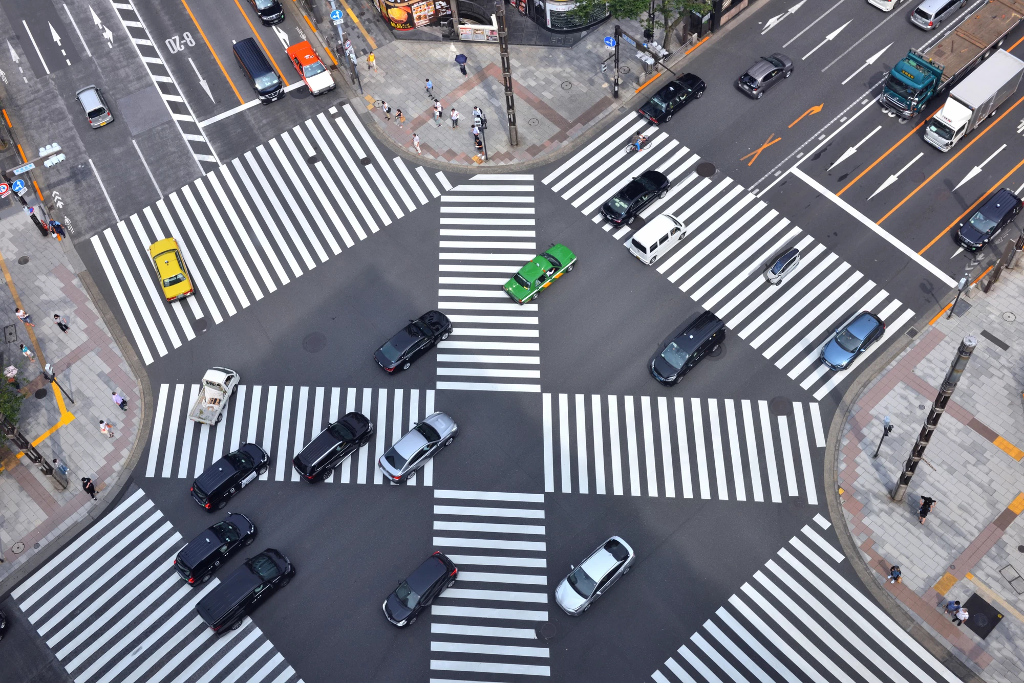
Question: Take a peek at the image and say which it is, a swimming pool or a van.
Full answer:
Looking from above, you can make out a van.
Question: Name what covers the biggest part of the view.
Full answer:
The scene is dominated by paved ground.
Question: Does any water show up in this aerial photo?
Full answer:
No, the scene doesn't show any water.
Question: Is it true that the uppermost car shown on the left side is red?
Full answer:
No, the uppermost car shown on the left side is actually black.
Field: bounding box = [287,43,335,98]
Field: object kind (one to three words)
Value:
car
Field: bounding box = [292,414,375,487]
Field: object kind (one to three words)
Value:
car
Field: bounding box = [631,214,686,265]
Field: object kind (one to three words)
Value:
van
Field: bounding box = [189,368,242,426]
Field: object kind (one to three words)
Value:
truck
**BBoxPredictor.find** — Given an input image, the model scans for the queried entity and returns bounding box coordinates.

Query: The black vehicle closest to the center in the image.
[375,312,453,376]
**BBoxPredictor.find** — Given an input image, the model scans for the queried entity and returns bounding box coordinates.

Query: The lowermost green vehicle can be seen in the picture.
[504,244,578,306]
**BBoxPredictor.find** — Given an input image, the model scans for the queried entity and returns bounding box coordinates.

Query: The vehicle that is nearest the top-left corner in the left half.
[75,87,113,130]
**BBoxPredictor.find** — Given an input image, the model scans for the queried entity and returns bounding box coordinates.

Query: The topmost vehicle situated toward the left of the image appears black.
[243,0,283,27]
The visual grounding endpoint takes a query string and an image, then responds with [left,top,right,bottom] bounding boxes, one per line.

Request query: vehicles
[924,48,1024,153]
[819,307,887,372]
[292,414,375,487]
[557,536,636,617]
[958,190,1022,254]
[233,41,282,104]
[602,172,672,229]
[243,0,283,27]
[173,513,255,587]
[382,551,460,630]
[198,553,293,636]
[880,0,1024,121]
[640,74,708,126]
[631,214,686,265]
[189,443,269,511]
[911,0,969,31]
[151,236,194,304]
[739,55,793,99]
[375,312,453,376]
[651,311,725,384]
[287,43,335,98]
[378,413,457,483]
[504,244,578,306]
[189,368,242,426]
[75,87,113,130]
